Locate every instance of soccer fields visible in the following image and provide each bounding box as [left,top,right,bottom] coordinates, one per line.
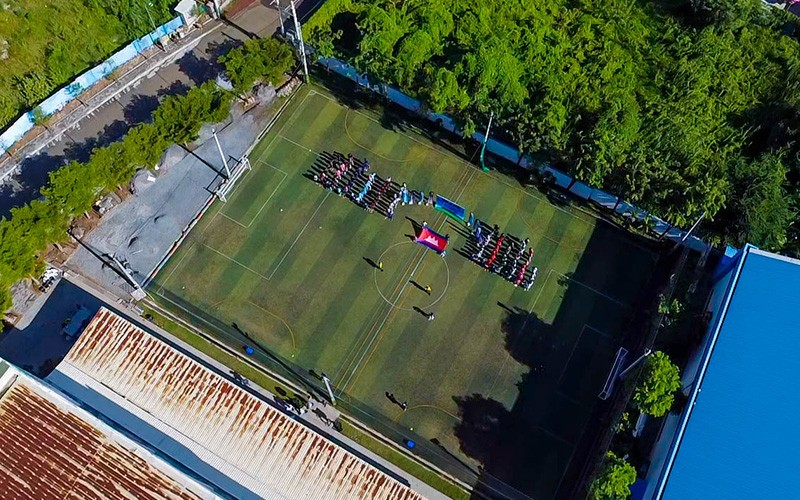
[145,81,677,500]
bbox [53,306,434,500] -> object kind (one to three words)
shed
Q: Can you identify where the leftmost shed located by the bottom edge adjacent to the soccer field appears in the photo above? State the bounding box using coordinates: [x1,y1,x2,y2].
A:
[0,363,238,500]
